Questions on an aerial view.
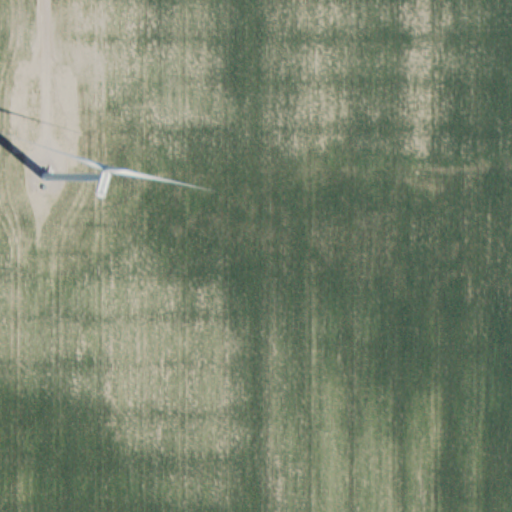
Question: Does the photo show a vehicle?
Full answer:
No, I can see no vehicle in this picture.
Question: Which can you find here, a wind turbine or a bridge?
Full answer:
The image shows a wind turbine.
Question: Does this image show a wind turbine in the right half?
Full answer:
No, I see no wind turbine in the right half.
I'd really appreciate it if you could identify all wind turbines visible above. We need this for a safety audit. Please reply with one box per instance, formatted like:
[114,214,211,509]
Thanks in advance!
[37,144,214,196]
